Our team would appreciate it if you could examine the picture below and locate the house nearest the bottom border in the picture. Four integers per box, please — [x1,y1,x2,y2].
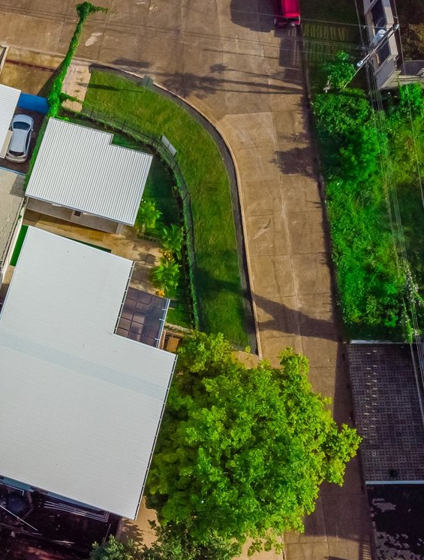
[0,224,183,521]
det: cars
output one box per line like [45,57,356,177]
[6,111,35,164]
[275,0,305,29]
